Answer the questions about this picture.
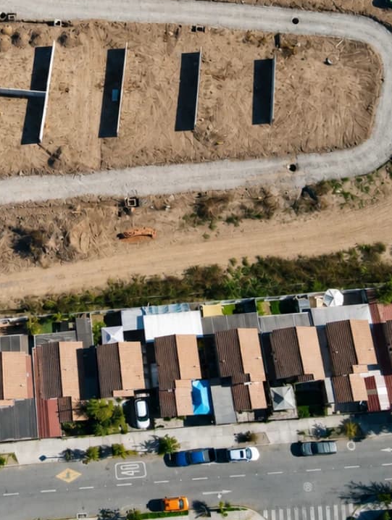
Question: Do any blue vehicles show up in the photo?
Yes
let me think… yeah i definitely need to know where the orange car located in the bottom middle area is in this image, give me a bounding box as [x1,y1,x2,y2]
[160,497,191,513]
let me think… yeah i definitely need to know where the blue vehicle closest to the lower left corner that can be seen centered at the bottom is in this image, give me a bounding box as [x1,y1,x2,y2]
[174,449,214,467]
